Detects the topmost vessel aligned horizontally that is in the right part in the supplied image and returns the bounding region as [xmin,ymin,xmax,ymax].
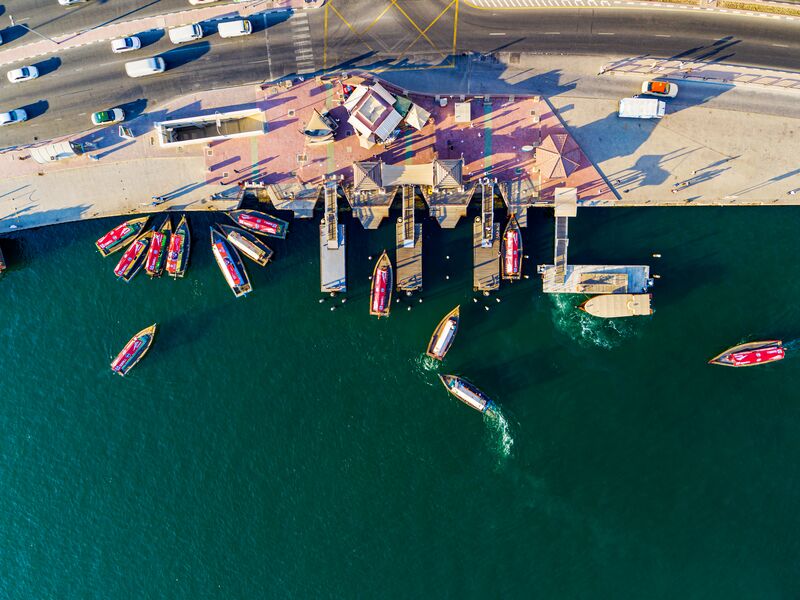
[577,294,652,316]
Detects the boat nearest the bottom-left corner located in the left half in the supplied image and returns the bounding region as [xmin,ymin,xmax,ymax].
[111,323,159,377]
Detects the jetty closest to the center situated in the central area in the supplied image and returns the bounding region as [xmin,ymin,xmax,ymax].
[395,223,423,294]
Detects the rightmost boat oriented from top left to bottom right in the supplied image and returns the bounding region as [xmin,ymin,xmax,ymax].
[438,373,493,413]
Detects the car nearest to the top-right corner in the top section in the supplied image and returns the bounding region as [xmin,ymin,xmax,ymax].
[641,80,677,96]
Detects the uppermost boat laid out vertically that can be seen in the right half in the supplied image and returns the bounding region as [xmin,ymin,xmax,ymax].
[502,207,521,281]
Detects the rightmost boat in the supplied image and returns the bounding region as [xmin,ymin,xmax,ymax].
[704,342,786,366]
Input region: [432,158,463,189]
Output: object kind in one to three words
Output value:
building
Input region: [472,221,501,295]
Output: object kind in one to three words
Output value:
pier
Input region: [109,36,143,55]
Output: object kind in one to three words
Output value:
car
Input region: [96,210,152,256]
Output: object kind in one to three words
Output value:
boat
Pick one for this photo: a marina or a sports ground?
marina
